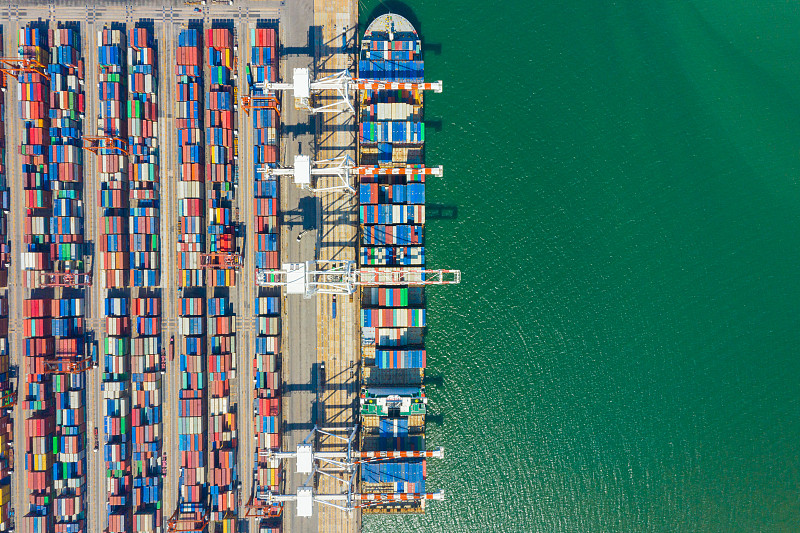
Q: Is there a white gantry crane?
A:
Yes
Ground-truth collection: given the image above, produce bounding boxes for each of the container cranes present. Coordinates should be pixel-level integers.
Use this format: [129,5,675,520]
[261,458,445,515]
[260,420,445,471]
[244,492,284,517]
[200,252,244,269]
[257,68,443,118]
[39,270,91,288]
[258,154,443,196]
[0,58,51,82]
[41,353,92,374]
[254,256,462,299]
[80,135,130,156]
[240,95,280,118]
[165,503,209,531]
